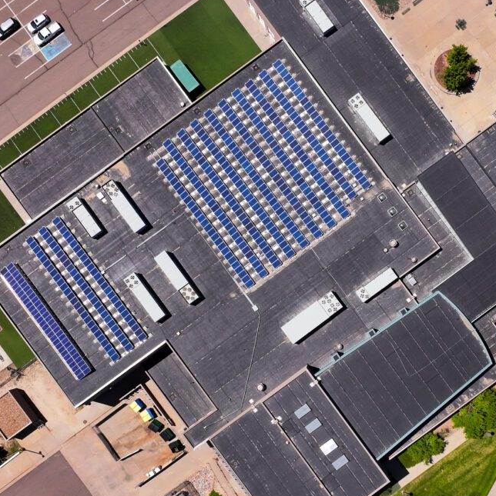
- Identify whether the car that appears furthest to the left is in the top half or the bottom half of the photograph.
top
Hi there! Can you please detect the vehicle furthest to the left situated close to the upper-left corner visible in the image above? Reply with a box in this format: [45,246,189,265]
[0,18,22,40]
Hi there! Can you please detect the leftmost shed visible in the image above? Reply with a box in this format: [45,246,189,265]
[0,390,39,441]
